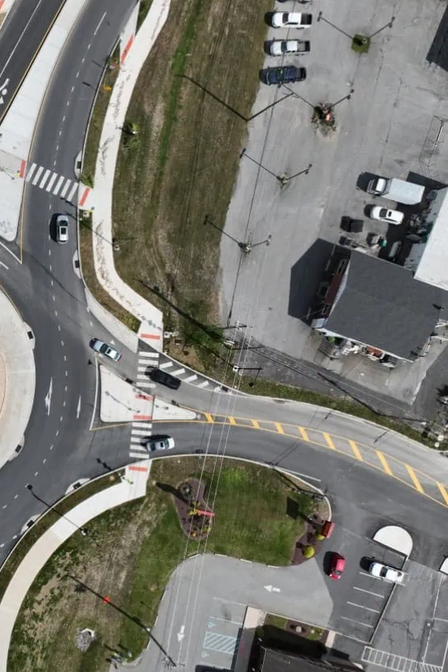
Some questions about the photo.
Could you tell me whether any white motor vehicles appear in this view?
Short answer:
Yes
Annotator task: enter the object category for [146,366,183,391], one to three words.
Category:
car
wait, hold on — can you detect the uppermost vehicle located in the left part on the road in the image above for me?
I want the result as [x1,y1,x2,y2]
[55,213,70,244]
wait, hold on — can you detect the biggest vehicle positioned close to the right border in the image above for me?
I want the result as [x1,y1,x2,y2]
[368,175,428,202]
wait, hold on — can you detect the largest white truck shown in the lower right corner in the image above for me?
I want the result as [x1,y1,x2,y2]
[367,562,408,585]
